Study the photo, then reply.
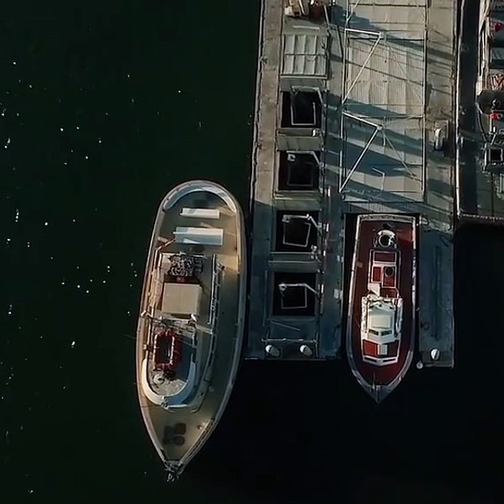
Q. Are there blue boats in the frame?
No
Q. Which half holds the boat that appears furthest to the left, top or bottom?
bottom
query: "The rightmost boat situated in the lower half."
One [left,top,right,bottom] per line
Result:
[346,214,419,403]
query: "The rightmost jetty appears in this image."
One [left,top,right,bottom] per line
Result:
[419,0,456,367]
